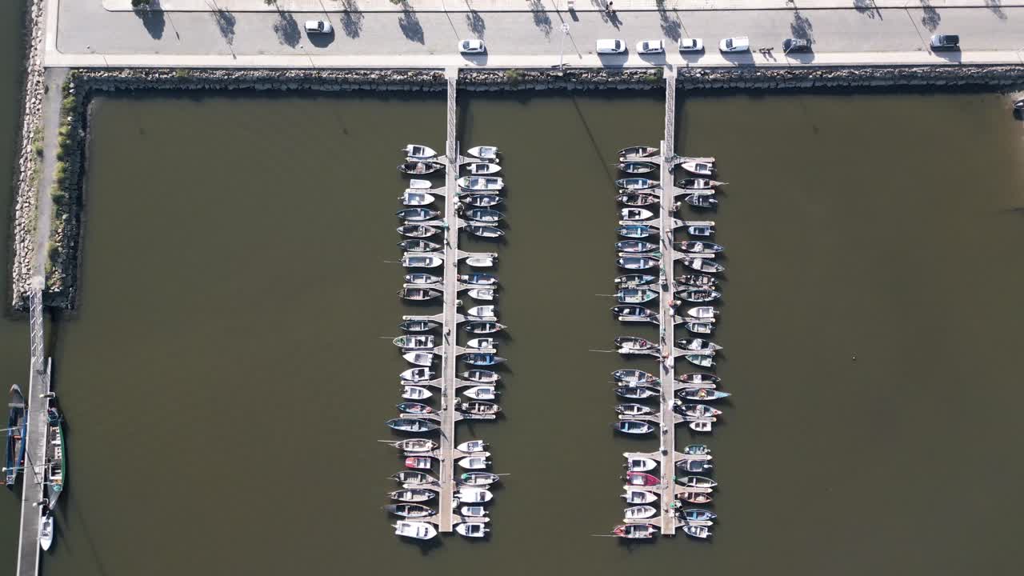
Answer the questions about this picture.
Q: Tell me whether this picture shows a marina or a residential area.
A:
marina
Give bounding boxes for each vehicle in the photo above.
[929,34,960,49]
[459,39,486,54]
[677,38,702,52]
[596,38,625,54]
[781,38,811,53]
[637,40,665,54]
[305,19,333,35]
[718,37,750,52]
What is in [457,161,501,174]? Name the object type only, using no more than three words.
boat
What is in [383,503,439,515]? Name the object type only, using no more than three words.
boat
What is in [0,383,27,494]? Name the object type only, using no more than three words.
vessel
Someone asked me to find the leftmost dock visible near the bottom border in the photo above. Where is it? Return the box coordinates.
[17,356,53,576]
